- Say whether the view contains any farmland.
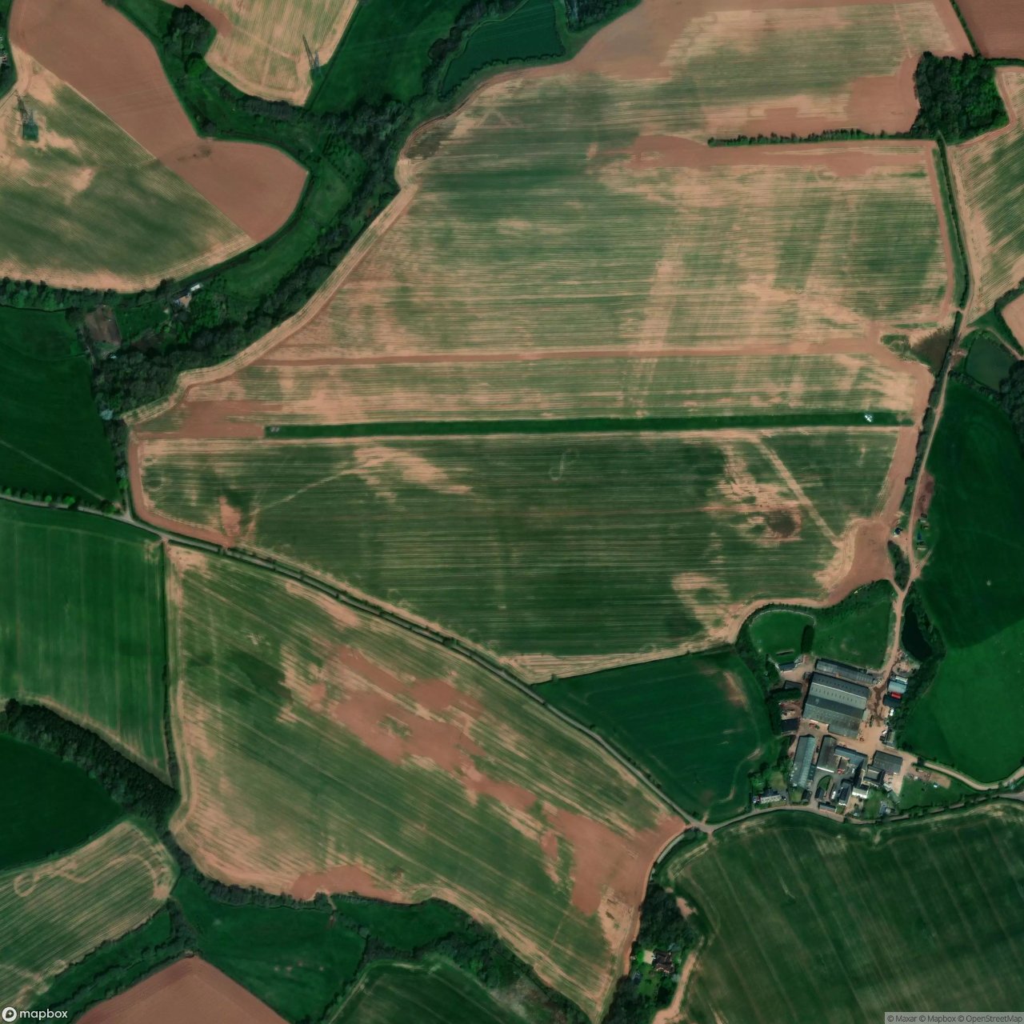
Yes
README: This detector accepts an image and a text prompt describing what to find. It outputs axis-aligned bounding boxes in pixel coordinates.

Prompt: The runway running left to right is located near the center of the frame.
[265,413,911,438]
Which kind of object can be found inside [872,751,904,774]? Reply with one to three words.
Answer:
building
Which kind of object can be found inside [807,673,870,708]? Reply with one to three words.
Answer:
barn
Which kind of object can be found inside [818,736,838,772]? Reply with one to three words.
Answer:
barn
